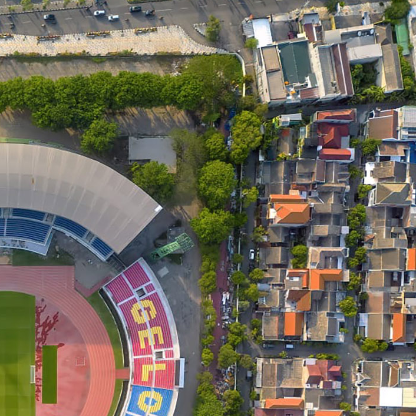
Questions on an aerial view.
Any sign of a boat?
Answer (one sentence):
No, there isn't any boat down there.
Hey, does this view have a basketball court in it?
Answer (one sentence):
No, no basketball court is visible in the view.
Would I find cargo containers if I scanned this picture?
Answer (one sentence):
No, the scene contains no cargo container.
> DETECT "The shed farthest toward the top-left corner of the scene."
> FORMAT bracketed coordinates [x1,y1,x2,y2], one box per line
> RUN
[126,138,176,161]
